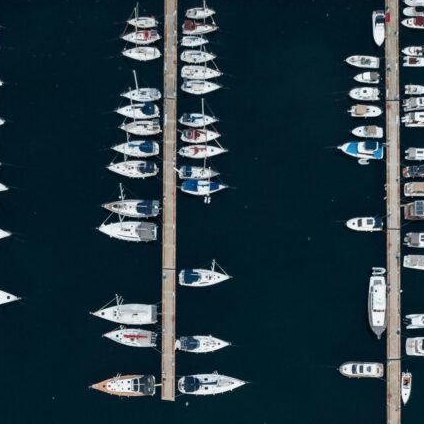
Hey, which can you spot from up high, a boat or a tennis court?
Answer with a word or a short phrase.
boat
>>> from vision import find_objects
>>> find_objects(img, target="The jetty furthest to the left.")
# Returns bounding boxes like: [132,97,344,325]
[162,0,178,401]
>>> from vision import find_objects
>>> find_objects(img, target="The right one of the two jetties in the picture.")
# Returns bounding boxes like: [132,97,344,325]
[384,0,400,424]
